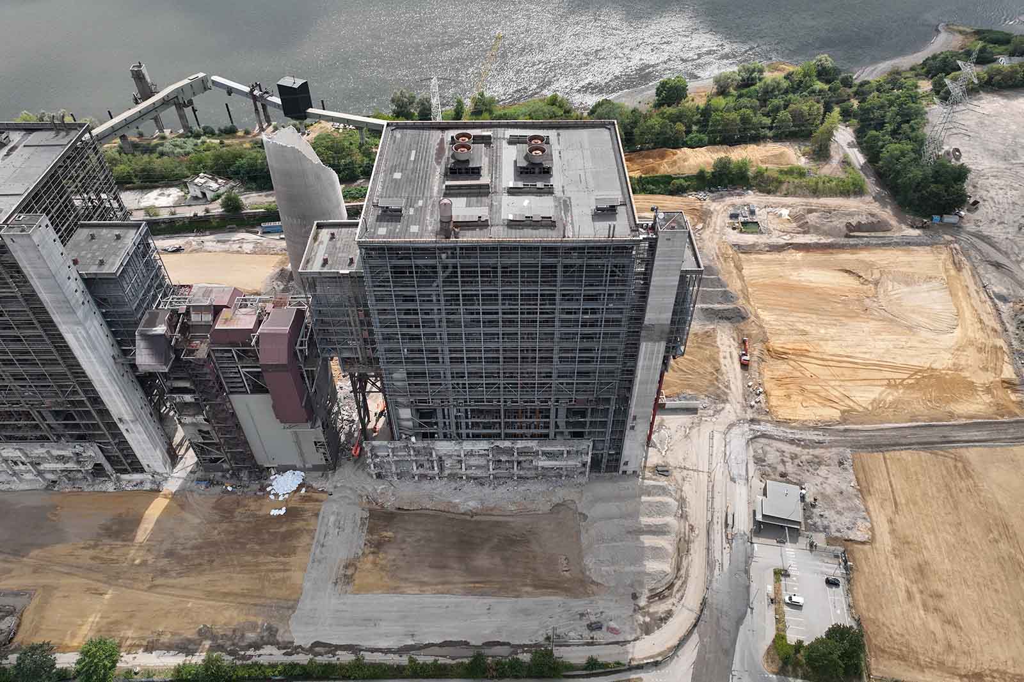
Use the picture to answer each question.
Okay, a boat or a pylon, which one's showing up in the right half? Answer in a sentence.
You can see a pylon in the right half.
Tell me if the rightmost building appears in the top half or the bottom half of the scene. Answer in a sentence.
You can find the rightmost building in the bottom half.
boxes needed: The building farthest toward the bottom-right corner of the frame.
[762,480,814,536]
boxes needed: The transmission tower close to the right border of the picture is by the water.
[932,46,998,157]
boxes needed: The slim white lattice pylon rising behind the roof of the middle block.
[419,72,455,118]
